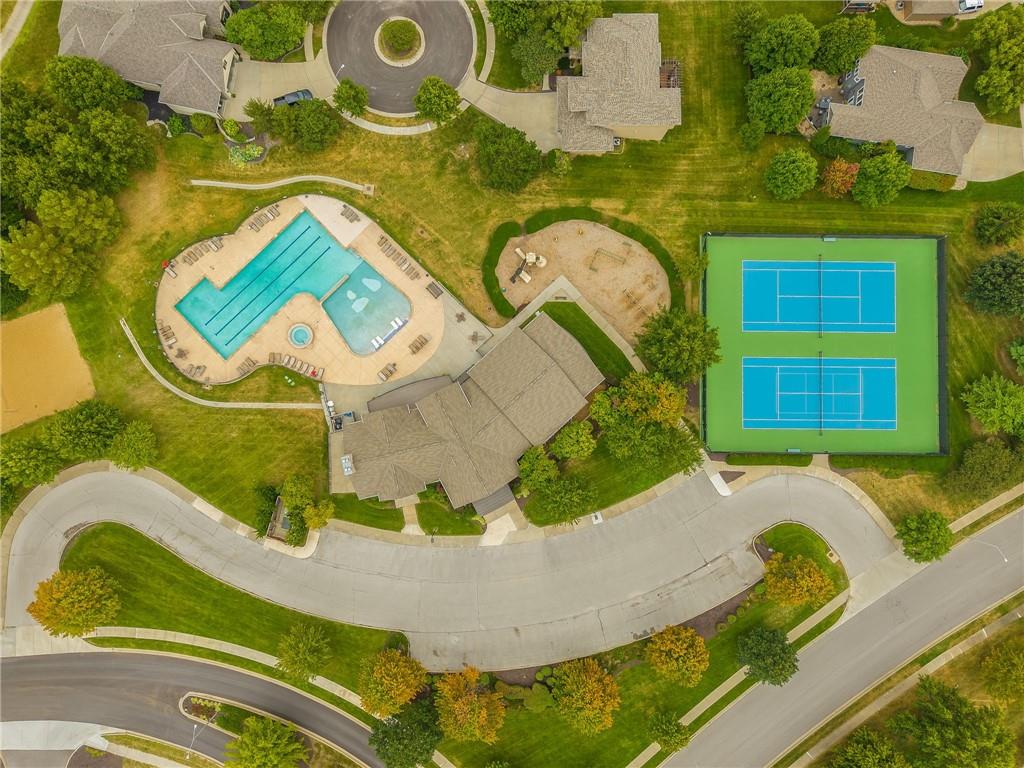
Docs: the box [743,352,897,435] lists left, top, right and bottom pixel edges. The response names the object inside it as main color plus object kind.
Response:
blue tennis court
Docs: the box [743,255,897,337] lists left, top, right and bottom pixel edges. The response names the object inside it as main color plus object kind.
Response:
blue tennis court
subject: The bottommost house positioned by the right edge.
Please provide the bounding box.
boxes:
[823,46,985,177]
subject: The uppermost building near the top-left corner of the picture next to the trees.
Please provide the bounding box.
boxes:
[57,0,233,119]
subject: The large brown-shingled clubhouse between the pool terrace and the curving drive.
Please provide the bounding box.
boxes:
[344,312,607,519]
